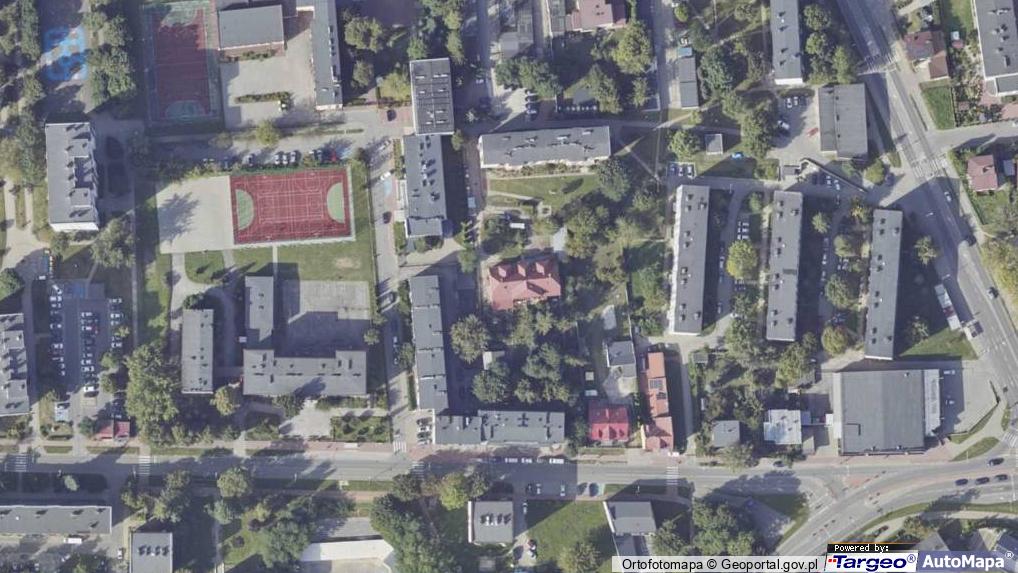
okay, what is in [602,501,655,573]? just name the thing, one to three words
house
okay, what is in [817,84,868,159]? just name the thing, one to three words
building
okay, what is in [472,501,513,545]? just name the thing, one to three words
building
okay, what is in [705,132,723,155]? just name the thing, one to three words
shed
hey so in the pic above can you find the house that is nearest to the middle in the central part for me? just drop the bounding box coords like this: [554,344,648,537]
[489,259,561,310]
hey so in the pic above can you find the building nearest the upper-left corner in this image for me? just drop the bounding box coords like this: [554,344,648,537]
[45,122,107,236]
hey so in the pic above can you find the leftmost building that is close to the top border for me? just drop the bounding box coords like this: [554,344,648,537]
[218,4,285,52]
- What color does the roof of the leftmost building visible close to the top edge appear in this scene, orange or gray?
gray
